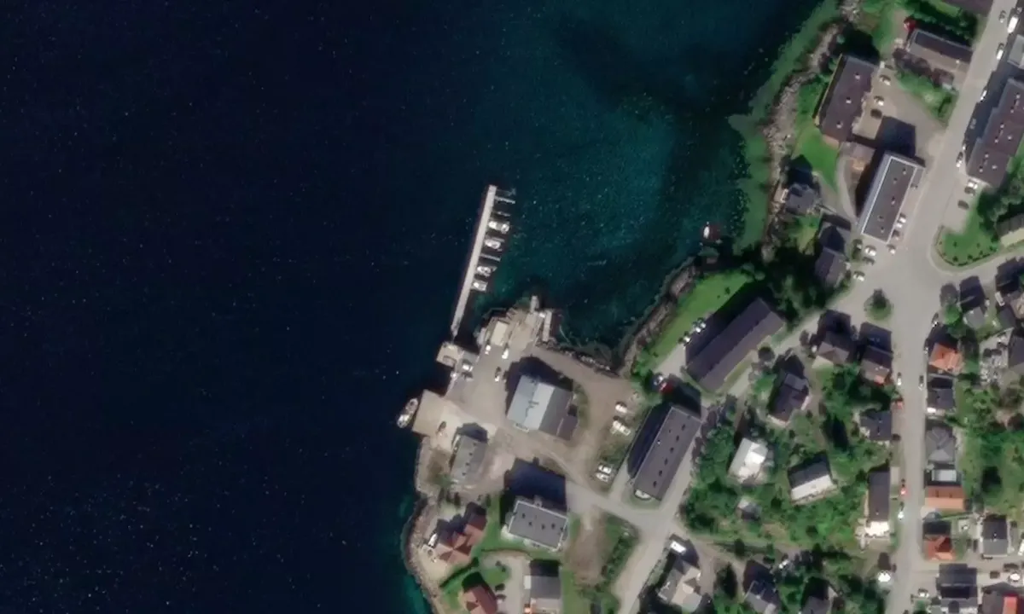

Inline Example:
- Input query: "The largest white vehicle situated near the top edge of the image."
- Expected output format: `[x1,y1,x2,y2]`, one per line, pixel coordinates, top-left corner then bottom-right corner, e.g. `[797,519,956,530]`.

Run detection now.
[1008,15,1020,35]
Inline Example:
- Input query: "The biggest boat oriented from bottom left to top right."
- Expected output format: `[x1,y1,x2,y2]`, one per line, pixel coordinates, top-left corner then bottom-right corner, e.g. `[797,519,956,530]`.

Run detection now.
[400,399,419,426]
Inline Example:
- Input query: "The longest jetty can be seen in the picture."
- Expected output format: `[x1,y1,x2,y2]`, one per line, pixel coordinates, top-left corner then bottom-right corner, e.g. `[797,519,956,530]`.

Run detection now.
[452,185,515,334]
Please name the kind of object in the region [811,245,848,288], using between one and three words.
house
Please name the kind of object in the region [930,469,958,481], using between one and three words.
building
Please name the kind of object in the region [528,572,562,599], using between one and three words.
house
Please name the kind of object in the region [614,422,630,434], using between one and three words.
vehicle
